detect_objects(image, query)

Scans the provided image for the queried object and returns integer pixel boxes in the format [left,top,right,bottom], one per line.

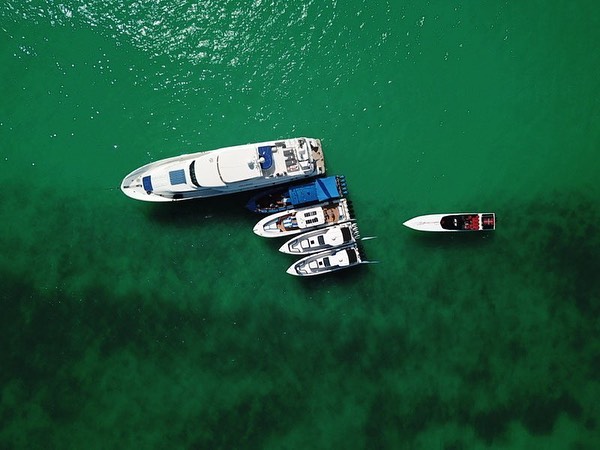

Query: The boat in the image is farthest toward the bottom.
[287,244,381,275]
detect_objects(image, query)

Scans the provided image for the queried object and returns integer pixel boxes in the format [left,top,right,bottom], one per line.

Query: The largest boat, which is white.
[114,137,327,201]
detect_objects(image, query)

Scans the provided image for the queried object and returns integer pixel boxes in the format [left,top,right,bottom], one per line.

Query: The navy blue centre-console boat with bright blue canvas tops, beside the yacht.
[247,176,347,213]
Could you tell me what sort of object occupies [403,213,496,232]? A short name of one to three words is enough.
boat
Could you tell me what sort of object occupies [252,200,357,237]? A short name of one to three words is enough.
boat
